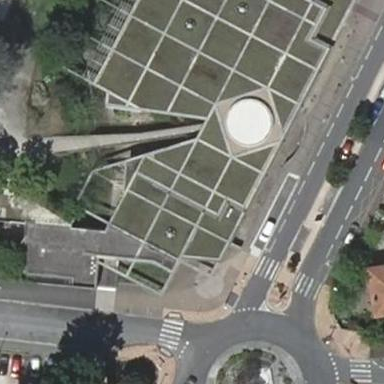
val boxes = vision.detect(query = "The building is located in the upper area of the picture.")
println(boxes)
[73,0,356,293]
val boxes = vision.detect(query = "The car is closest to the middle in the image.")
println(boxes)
[258,220,275,242]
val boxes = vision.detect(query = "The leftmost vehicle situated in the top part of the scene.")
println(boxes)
[340,136,354,158]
